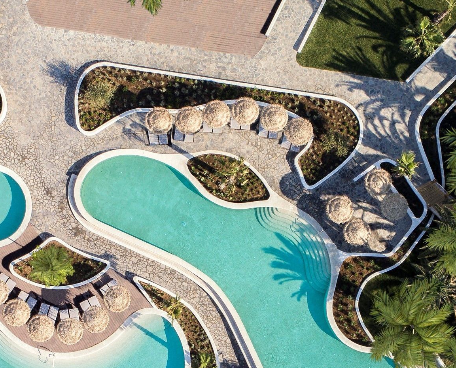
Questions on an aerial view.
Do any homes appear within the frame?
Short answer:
No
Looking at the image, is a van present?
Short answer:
No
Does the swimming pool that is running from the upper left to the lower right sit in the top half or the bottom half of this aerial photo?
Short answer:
bottom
